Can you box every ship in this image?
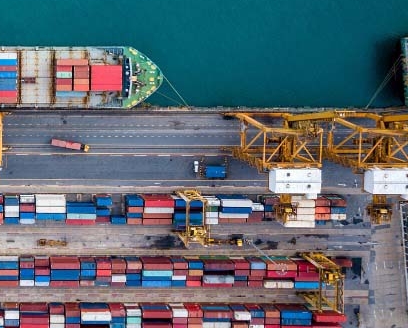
[385,39,408,109]
[0,41,163,111]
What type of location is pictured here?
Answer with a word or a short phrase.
port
